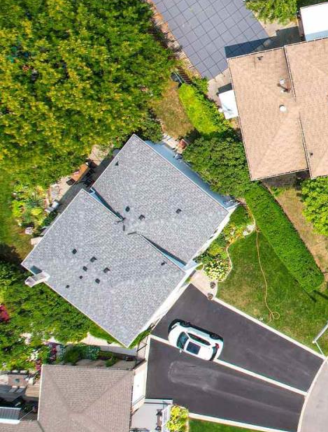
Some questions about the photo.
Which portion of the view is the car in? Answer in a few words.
bottom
